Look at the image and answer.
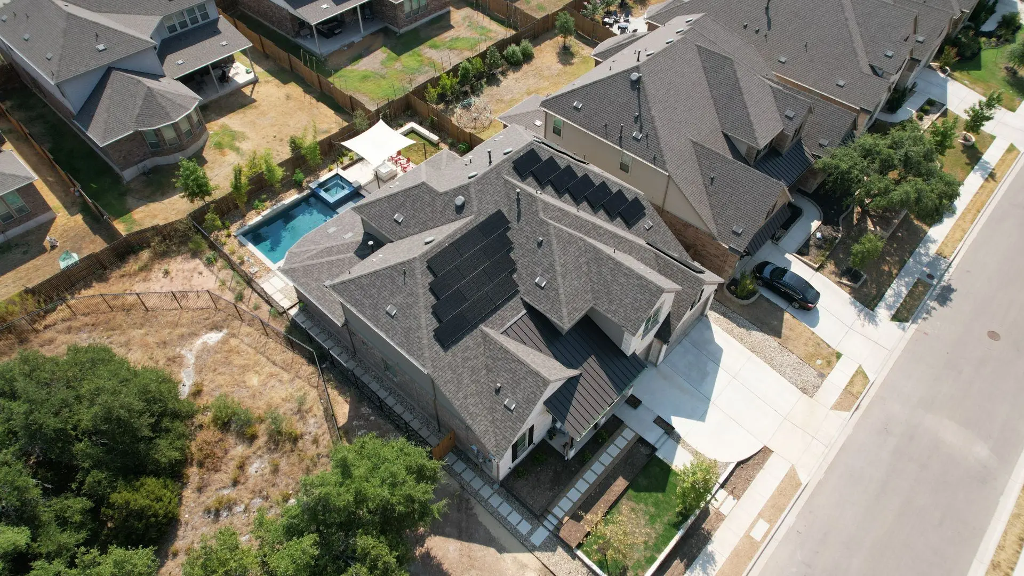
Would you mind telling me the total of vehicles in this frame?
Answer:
1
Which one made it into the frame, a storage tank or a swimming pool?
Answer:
swimming pool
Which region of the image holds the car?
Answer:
right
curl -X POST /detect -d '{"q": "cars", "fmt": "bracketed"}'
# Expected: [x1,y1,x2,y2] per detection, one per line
[751,260,828,309]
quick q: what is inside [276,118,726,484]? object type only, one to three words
house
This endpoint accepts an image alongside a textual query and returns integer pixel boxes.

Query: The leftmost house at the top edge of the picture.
[0,0,259,182]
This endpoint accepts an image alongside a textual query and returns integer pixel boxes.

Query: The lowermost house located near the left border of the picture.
[0,149,57,246]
